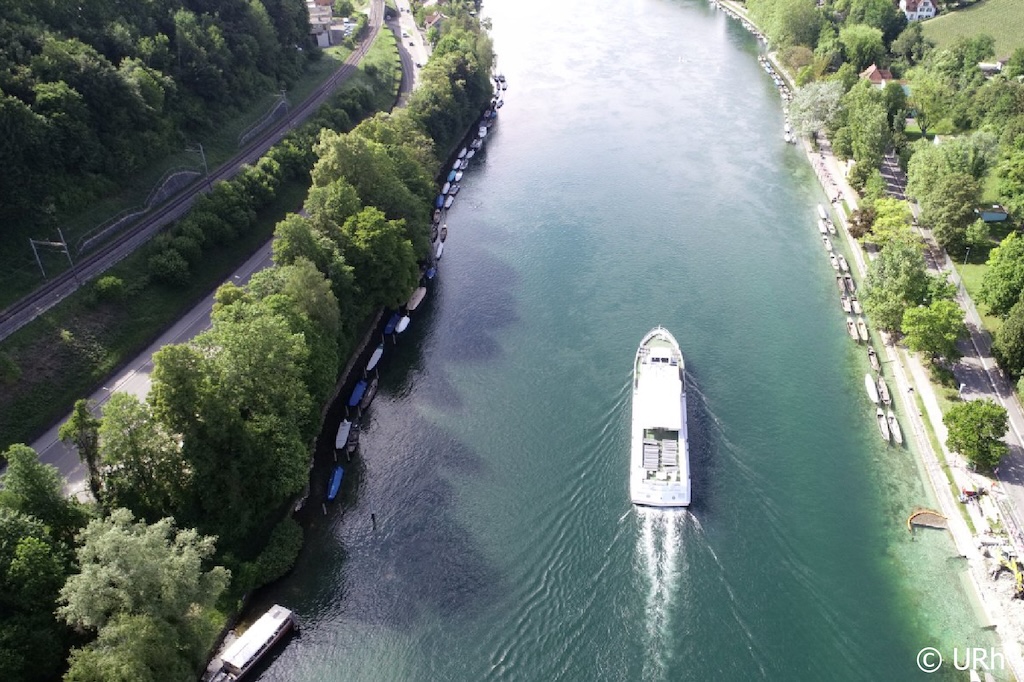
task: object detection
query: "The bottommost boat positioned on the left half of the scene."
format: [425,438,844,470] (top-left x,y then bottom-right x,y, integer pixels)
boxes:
[210,604,298,682]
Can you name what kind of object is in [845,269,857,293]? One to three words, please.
boat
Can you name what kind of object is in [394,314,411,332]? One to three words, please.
boat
